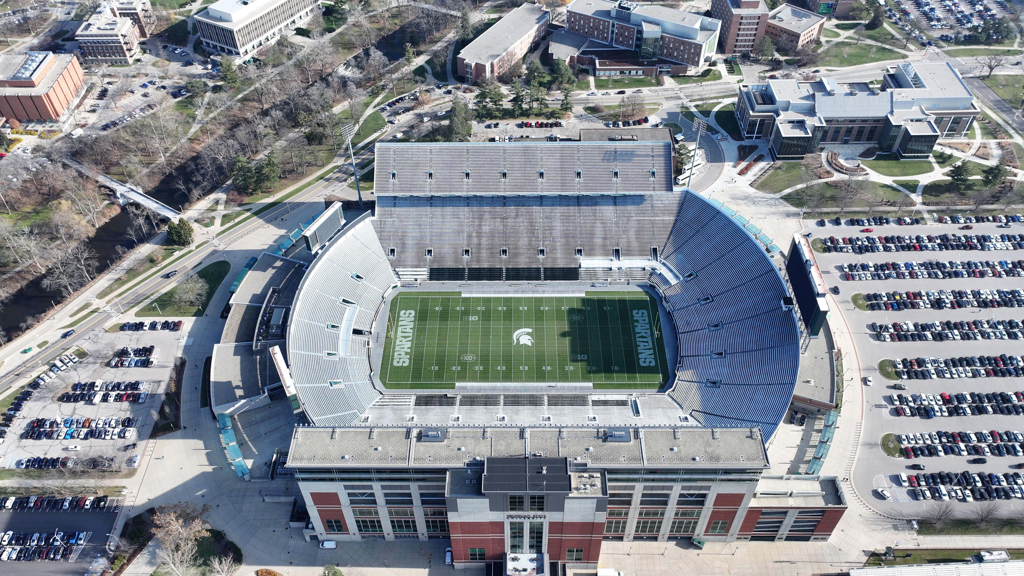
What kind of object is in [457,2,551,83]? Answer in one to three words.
building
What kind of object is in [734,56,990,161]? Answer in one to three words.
building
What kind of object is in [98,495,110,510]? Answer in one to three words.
vehicle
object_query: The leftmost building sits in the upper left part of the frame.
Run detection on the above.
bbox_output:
[0,51,85,124]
